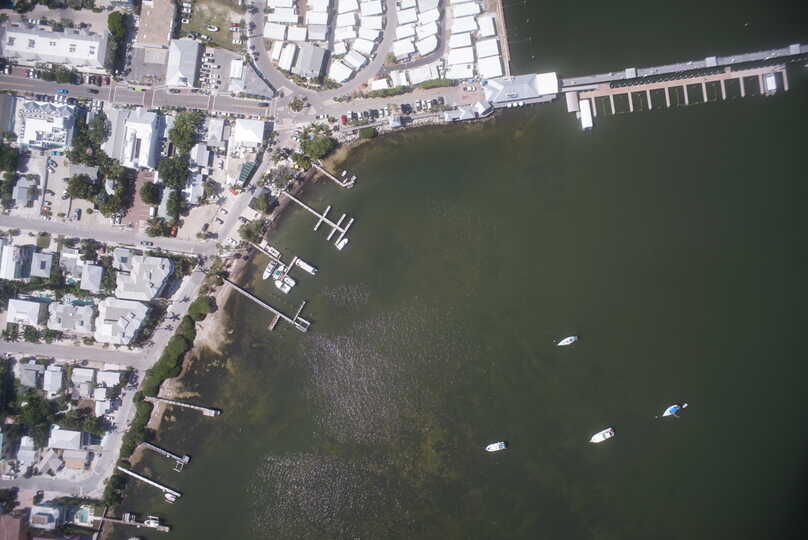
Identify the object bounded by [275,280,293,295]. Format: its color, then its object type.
white boat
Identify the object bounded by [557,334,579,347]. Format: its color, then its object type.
white boat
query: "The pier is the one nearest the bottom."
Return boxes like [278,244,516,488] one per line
[92,514,170,534]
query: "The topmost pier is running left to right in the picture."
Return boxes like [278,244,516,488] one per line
[559,42,808,88]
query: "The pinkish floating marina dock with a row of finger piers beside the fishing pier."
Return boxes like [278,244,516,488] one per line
[561,65,791,116]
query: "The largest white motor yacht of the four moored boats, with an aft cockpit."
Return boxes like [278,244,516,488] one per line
[589,427,616,444]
